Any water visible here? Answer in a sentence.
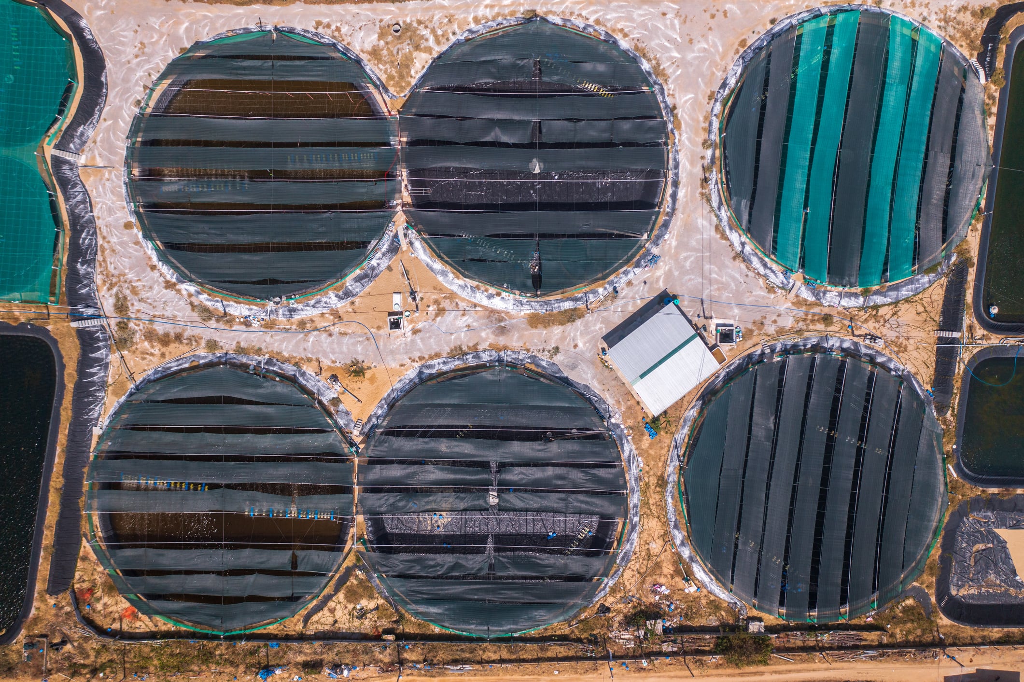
Yes, water can be seen from above here.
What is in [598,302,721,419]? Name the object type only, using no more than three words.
shed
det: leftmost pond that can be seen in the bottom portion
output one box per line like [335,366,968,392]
[0,321,64,642]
